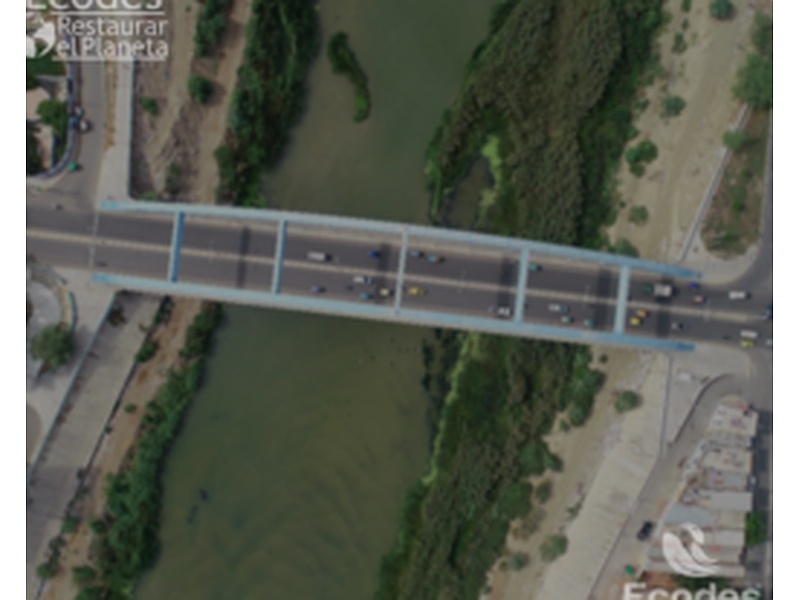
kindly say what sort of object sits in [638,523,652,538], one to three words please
car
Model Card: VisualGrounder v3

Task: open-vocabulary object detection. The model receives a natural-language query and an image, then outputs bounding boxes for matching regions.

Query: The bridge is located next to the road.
[93,198,702,355]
